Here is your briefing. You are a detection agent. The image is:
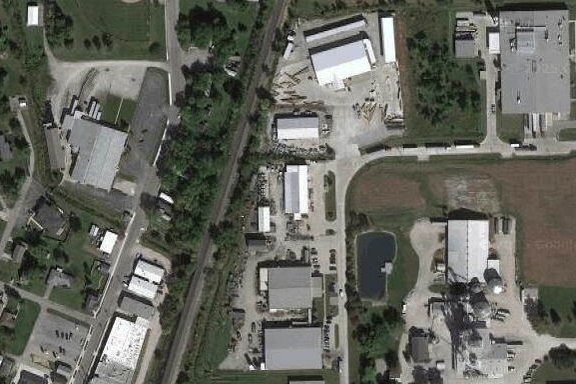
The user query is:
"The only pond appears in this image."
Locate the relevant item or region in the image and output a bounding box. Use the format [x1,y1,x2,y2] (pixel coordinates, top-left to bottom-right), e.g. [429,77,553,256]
[356,232,396,299]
